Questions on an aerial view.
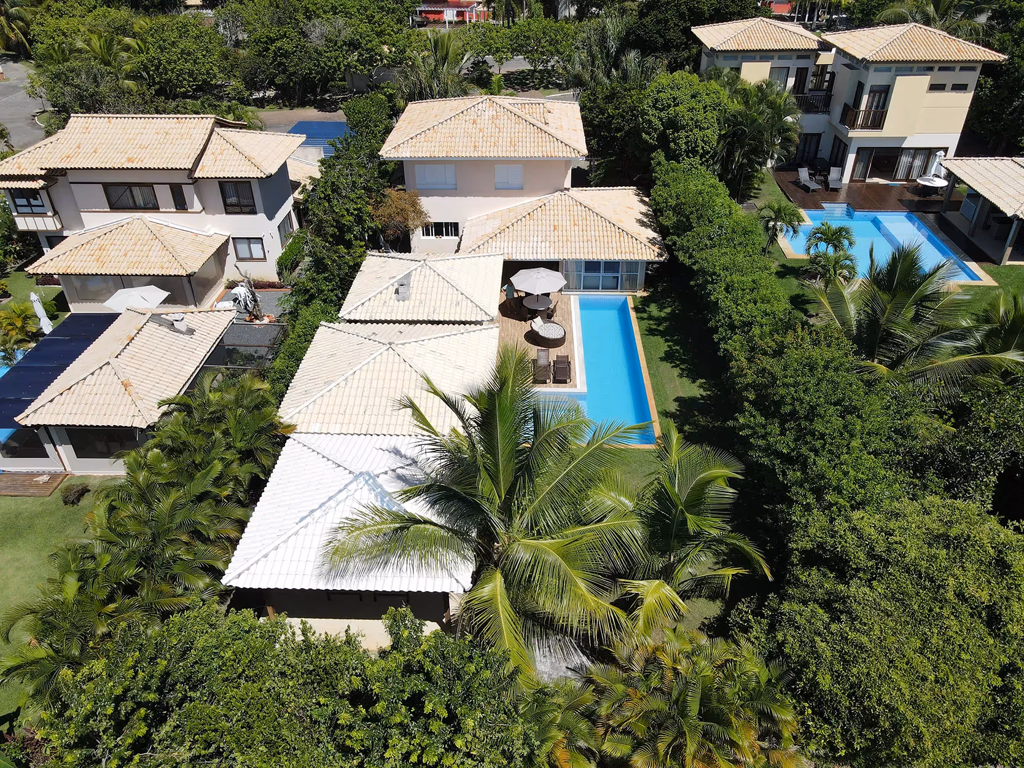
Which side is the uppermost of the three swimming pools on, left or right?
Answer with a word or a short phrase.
right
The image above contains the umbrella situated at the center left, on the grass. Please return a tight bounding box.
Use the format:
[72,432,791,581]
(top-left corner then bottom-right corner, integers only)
[29,290,51,335]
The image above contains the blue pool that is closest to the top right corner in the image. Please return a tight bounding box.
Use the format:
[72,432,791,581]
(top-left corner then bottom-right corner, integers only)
[766,203,998,286]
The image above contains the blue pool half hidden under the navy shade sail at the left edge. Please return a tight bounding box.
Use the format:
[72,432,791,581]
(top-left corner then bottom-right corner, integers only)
[0,346,29,374]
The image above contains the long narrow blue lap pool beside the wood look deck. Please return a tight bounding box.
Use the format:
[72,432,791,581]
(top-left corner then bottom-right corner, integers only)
[507,294,664,450]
